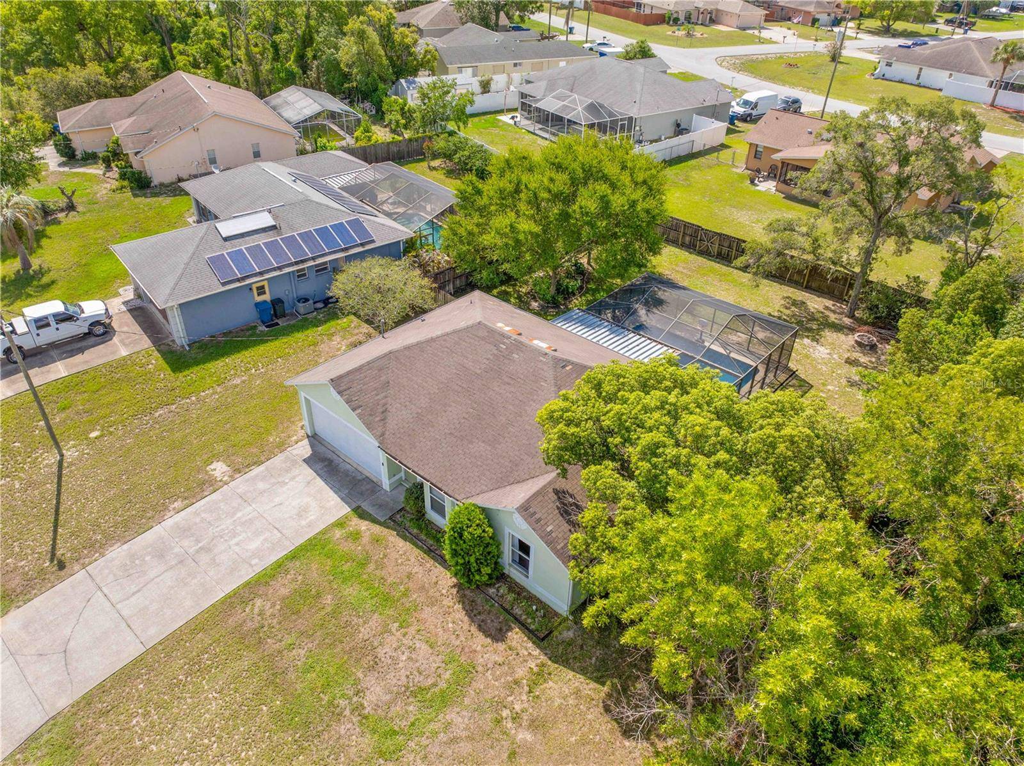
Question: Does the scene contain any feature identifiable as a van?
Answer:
Yes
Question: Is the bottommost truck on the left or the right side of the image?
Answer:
left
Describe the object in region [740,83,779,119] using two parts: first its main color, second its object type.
white van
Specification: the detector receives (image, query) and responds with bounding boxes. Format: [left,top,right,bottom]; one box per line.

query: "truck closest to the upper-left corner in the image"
[0,297,119,364]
